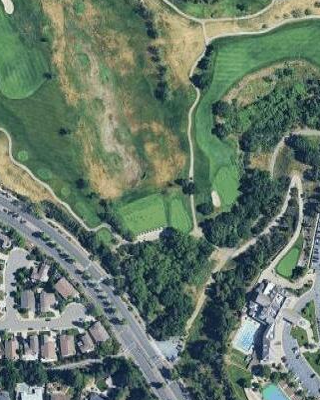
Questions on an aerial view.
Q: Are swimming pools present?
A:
Yes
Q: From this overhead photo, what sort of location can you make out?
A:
golf course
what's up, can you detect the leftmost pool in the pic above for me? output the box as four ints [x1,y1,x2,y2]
[231,315,261,350]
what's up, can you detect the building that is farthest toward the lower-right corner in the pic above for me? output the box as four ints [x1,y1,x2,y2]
[245,278,292,334]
